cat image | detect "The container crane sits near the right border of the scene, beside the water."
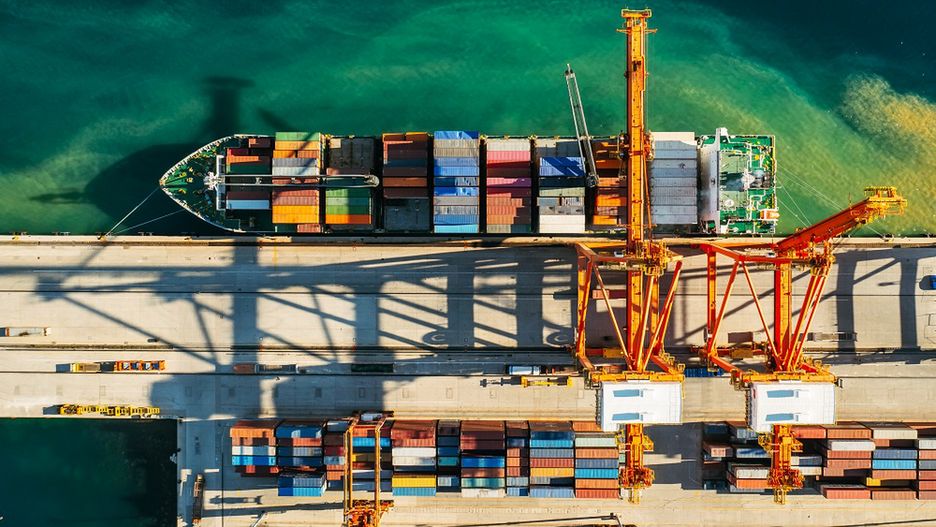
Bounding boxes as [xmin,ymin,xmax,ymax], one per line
[675,192,917,506]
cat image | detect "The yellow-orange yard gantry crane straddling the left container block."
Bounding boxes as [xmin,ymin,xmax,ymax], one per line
[343,399,397,527]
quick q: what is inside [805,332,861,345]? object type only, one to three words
vehicle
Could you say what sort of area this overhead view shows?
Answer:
port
